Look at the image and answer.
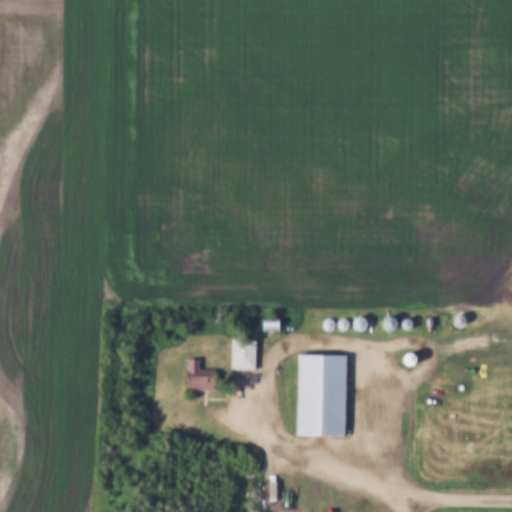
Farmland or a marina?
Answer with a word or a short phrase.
farmland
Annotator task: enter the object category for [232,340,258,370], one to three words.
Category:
building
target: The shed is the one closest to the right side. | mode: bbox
[296,355,348,438]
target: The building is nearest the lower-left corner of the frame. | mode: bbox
[188,359,216,392]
